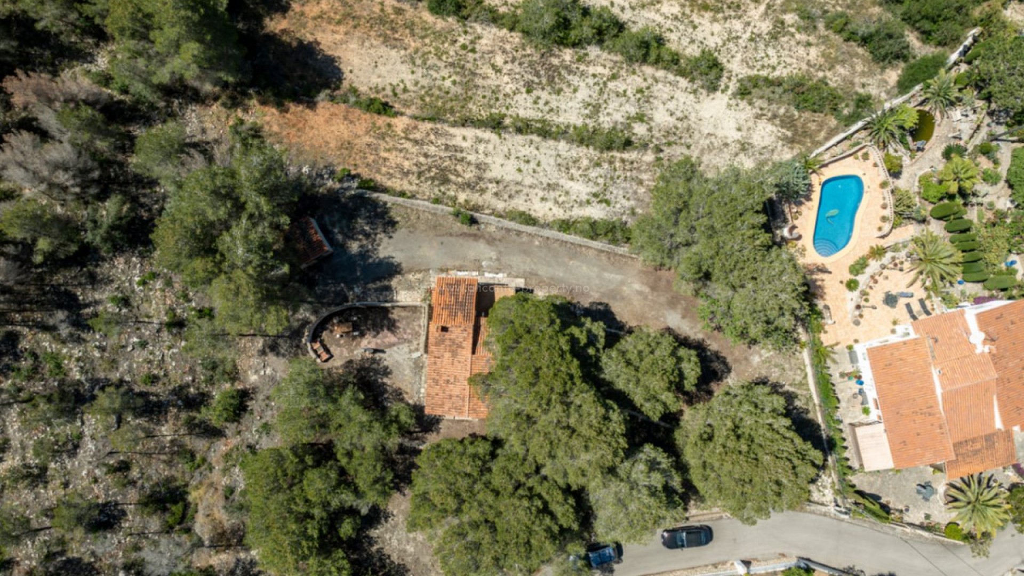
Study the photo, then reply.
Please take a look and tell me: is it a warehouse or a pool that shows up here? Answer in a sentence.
There is a pool in the scene.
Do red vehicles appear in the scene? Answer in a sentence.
No, the frame has no red vehicle in it.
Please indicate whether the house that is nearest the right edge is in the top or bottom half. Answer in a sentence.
It is in the bottom half that the house that is nearest the right edge appears.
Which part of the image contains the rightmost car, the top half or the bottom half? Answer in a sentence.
The rightmost car is in the bottom half of the image.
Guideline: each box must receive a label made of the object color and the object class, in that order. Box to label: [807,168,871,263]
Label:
blue swimming pool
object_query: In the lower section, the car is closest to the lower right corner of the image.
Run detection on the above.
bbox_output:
[663,524,710,550]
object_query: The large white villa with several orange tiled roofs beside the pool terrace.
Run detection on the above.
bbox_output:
[851,290,1024,480]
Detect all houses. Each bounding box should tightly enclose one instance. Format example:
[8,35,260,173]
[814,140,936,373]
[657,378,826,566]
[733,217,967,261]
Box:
[851,290,1024,480]
[424,277,535,419]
